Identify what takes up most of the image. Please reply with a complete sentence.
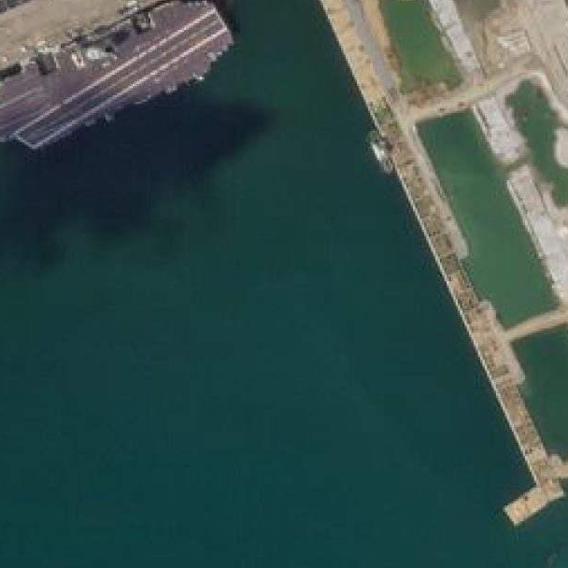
What you mostly see from above here is water.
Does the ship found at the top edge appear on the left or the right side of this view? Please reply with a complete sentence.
The ship found at the top edge appears in the left half of the scene.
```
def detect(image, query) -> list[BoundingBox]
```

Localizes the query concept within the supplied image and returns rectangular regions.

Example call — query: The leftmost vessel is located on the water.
[0,0,236,151]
